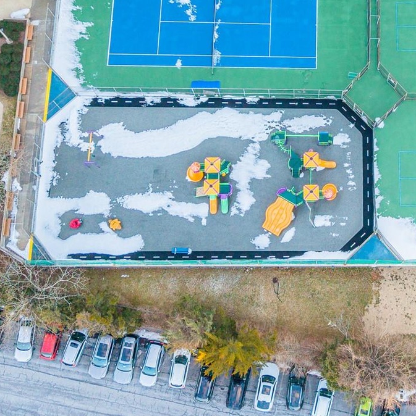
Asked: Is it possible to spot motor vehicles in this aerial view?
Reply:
Yes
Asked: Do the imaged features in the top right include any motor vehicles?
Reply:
No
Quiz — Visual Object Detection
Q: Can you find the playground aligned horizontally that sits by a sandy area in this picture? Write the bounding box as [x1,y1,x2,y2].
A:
[34,96,373,260]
